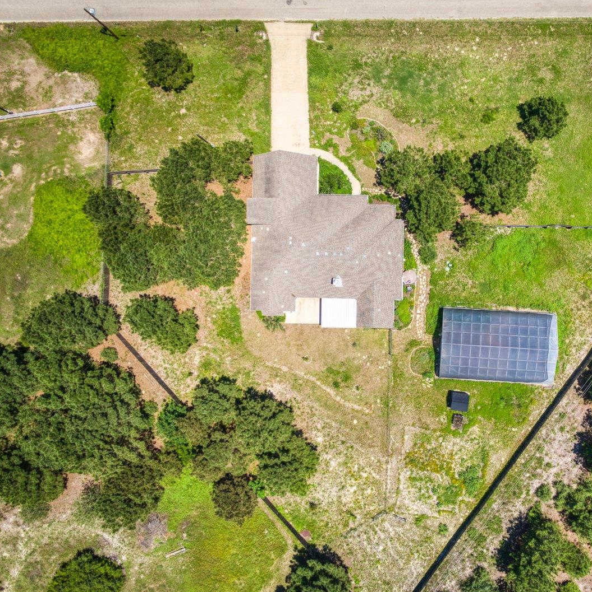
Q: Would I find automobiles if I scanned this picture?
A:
No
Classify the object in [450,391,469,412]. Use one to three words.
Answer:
shed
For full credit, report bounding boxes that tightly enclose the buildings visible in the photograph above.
[432,306,557,386]
[246,148,404,328]
[450,391,469,412]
